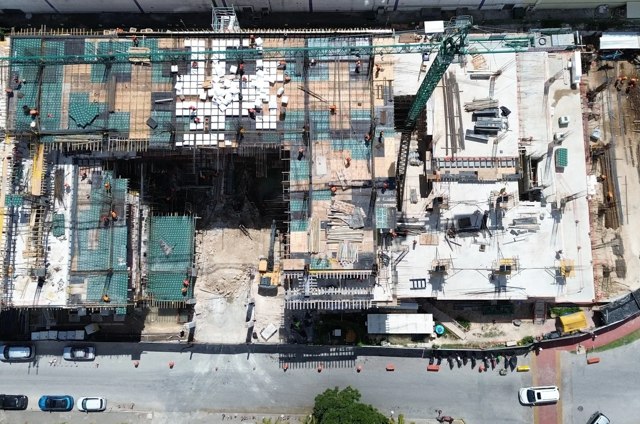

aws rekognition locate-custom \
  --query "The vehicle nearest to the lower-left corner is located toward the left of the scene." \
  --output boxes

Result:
[0,393,29,411]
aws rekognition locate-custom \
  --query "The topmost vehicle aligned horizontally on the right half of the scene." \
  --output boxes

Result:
[519,386,558,405]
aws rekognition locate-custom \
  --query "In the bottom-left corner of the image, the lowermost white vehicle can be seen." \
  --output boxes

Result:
[78,396,107,412]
